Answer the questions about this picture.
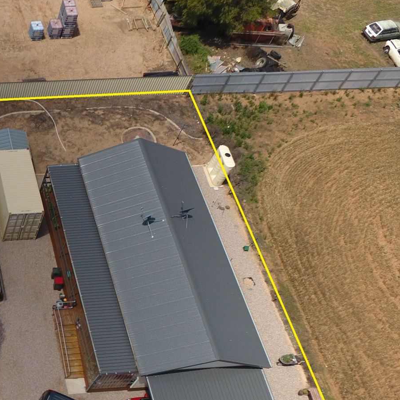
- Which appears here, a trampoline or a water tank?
water tank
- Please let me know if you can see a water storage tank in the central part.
Yes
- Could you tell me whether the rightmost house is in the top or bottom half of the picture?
bottom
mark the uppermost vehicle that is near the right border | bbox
[361,21,400,47]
